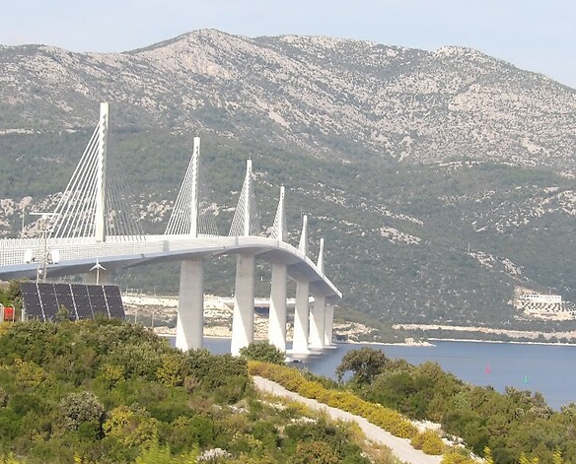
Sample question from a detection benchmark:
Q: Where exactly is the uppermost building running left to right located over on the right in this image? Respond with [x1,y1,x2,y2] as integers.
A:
[518,295,561,313]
